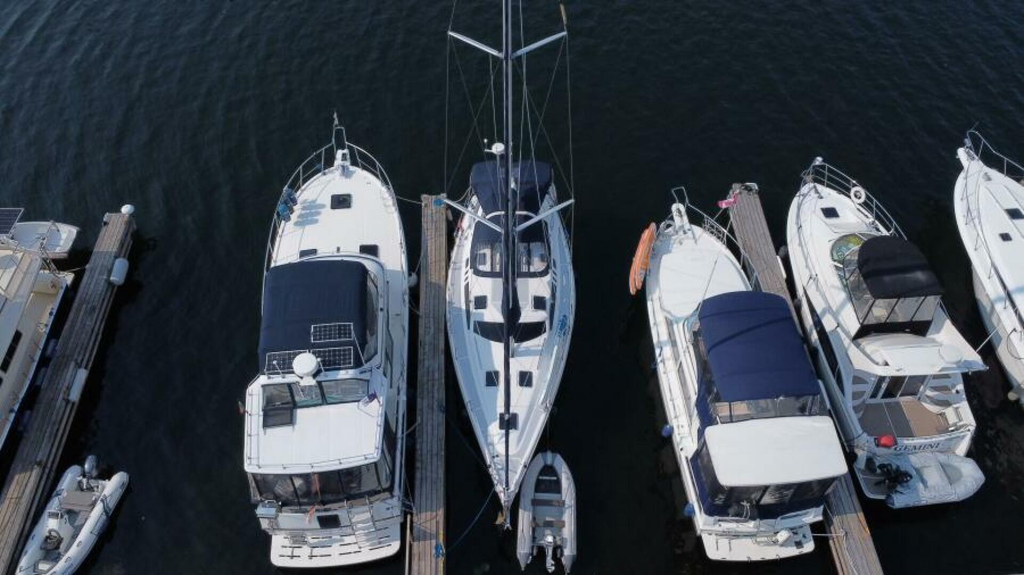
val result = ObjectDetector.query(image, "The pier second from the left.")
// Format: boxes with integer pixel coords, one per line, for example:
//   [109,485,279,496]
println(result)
[408,191,450,575]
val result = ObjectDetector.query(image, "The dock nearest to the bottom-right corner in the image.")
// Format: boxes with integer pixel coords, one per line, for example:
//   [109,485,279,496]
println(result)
[726,184,885,575]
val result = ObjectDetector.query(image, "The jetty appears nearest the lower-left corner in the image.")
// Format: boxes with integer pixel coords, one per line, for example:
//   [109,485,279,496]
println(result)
[0,210,137,575]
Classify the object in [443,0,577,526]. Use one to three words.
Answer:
boat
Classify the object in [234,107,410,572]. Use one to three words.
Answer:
boat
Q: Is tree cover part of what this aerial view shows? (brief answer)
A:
No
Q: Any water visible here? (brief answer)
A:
Yes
